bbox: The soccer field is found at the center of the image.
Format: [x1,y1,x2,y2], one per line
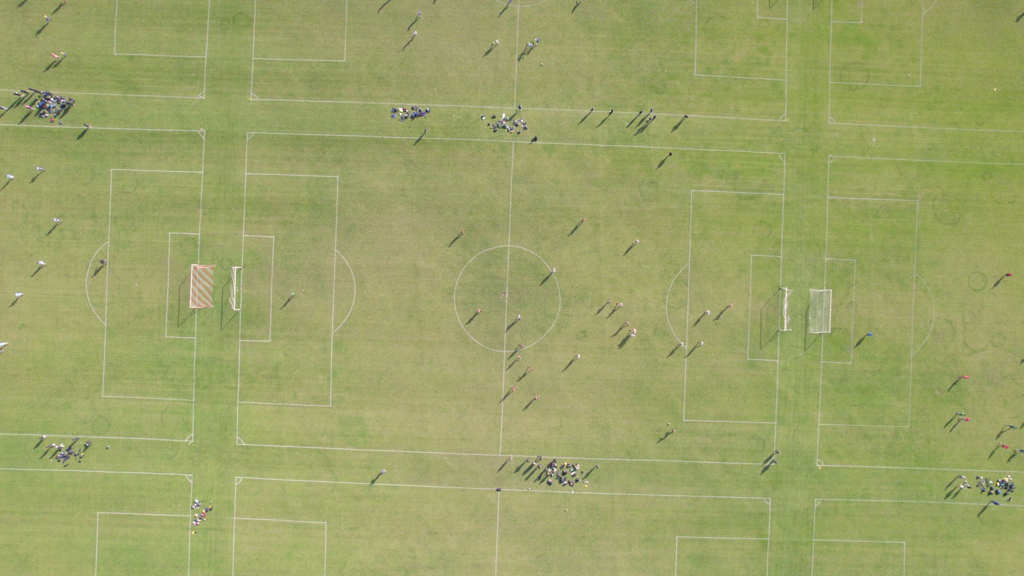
[236,132,785,464]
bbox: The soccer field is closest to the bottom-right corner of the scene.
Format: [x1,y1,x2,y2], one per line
[812,499,1024,576]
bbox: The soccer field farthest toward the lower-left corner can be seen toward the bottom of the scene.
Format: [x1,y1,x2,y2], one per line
[0,468,193,576]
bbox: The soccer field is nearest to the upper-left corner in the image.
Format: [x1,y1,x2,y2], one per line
[0,0,209,98]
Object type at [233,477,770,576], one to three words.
soccer field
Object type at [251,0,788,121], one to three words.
soccer field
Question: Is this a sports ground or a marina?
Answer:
sports ground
